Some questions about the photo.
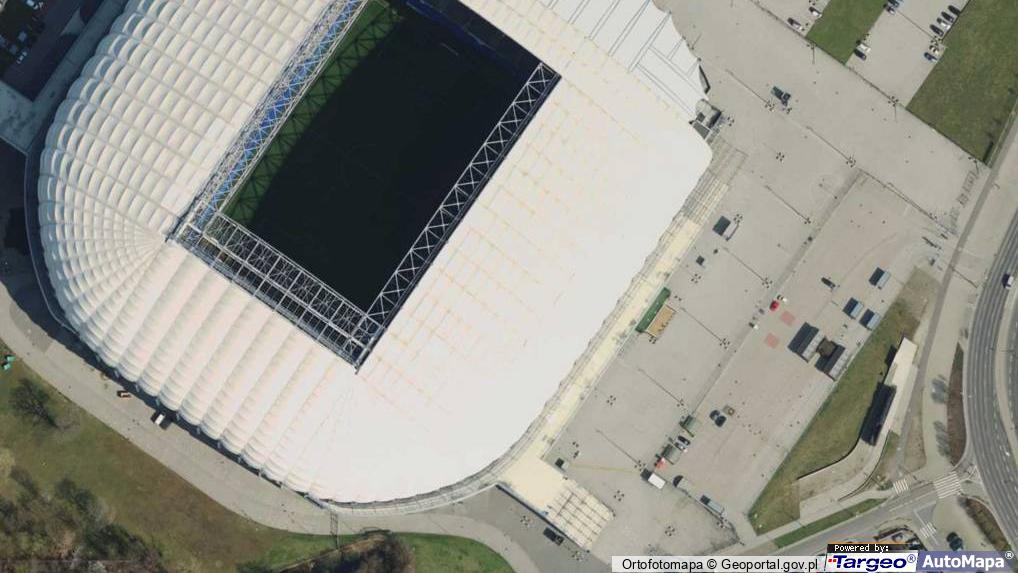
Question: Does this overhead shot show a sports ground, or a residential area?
sports ground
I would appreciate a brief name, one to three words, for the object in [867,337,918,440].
building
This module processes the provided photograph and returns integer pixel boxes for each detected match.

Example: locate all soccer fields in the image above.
[216,0,536,326]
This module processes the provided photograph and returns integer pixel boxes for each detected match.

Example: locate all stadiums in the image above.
[34,0,721,502]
